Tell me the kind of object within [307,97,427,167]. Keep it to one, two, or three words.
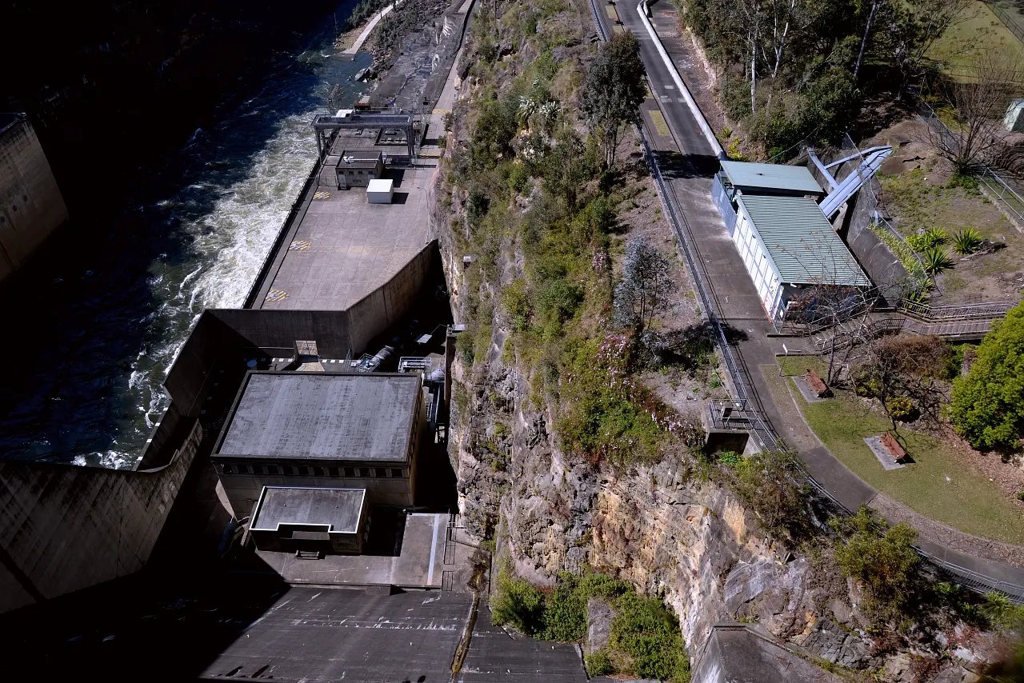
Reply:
container crane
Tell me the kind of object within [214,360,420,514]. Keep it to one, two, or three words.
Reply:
building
